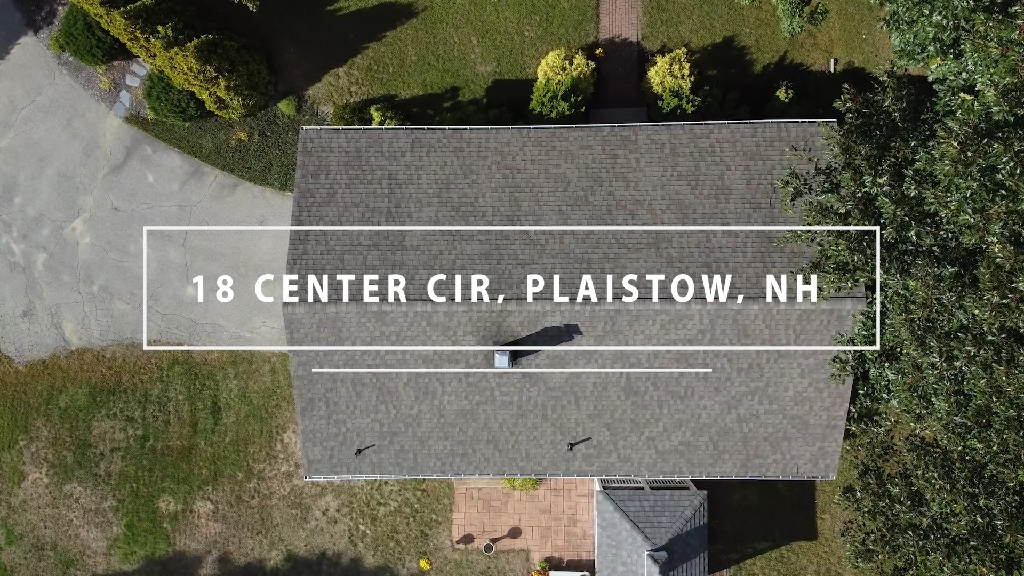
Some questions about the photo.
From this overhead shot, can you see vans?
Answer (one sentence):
No, this view has no van in it.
